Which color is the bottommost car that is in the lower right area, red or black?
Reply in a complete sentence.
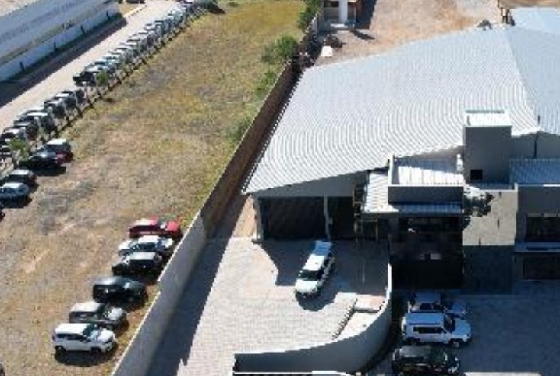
In this view, the bottommost car that is in the lower right area is black.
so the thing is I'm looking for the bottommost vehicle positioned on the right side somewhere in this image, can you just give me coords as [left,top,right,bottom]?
[391,345,462,376]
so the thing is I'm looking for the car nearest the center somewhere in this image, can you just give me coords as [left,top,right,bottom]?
[293,239,338,290]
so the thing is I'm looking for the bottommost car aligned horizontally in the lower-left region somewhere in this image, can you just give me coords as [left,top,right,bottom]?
[45,320,123,356]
